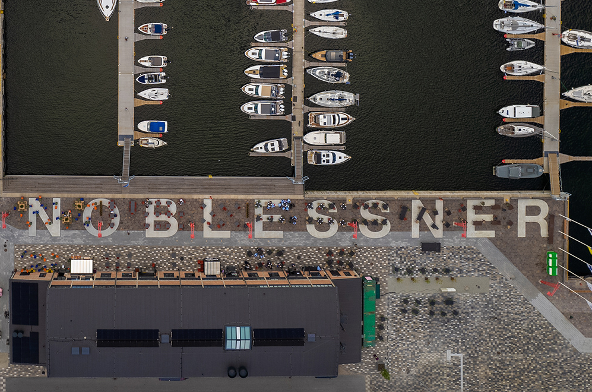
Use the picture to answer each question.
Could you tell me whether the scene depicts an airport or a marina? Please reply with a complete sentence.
This image shows a marina.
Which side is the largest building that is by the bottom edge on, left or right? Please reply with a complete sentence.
The largest building that is by the bottom edge appears in the left half of the scene.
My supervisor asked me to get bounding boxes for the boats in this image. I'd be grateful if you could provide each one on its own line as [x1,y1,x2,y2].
[497,59,558,77]
[255,28,293,42]
[492,163,544,179]
[502,38,534,50]
[307,148,354,165]
[247,0,290,7]
[245,46,292,62]
[560,29,592,50]
[136,71,170,85]
[313,48,356,62]
[241,99,288,116]
[138,55,172,68]
[137,87,169,100]
[312,8,348,22]
[307,110,357,127]
[245,65,290,80]
[495,104,542,119]
[138,21,171,36]
[307,90,357,107]
[561,87,592,102]
[304,130,346,146]
[139,136,167,148]
[249,137,289,153]
[491,16,554,35]
[306,65,352,82]
[137,119,168,133]
[494,121,559,139]
[496,0,555,13]
[241,81,289,98]
[308,24,347,39]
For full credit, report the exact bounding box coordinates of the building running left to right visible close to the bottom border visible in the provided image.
[10,270,362,380]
